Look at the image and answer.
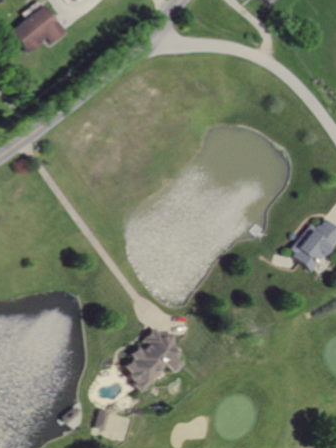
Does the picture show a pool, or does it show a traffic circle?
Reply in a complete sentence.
There is a pool in the scene.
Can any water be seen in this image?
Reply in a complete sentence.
Yes, there is water in the image.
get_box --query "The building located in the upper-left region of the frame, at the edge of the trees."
[14,1,67,52]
